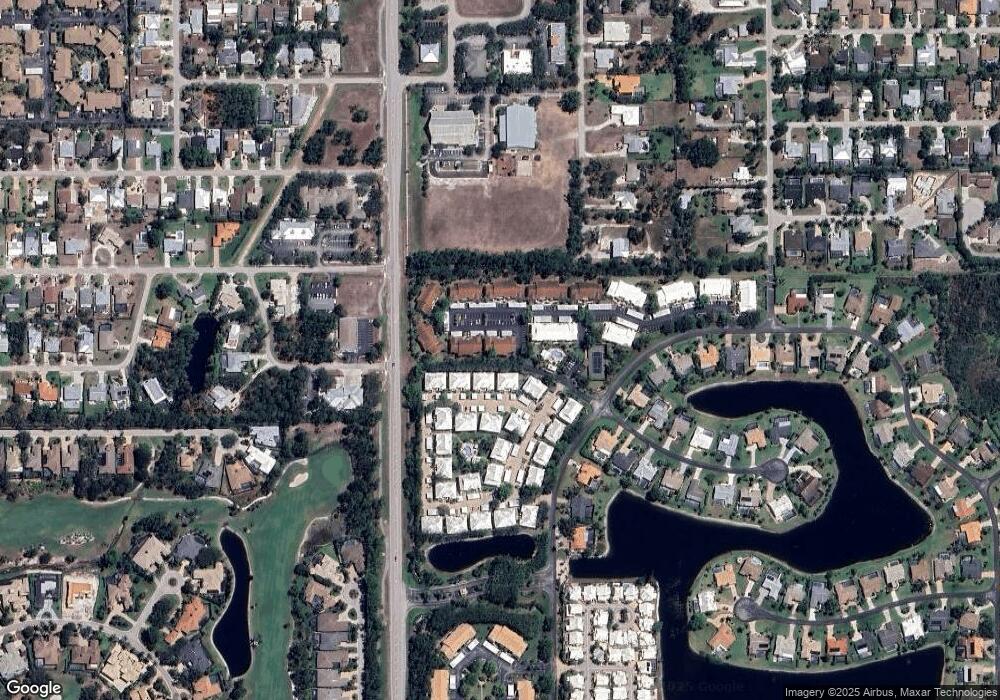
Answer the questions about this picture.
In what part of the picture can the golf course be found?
bottom left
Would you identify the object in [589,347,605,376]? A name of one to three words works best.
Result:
tennis court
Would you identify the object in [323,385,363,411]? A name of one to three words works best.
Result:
building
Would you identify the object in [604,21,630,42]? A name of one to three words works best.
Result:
house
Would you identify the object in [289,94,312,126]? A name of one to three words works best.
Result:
house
